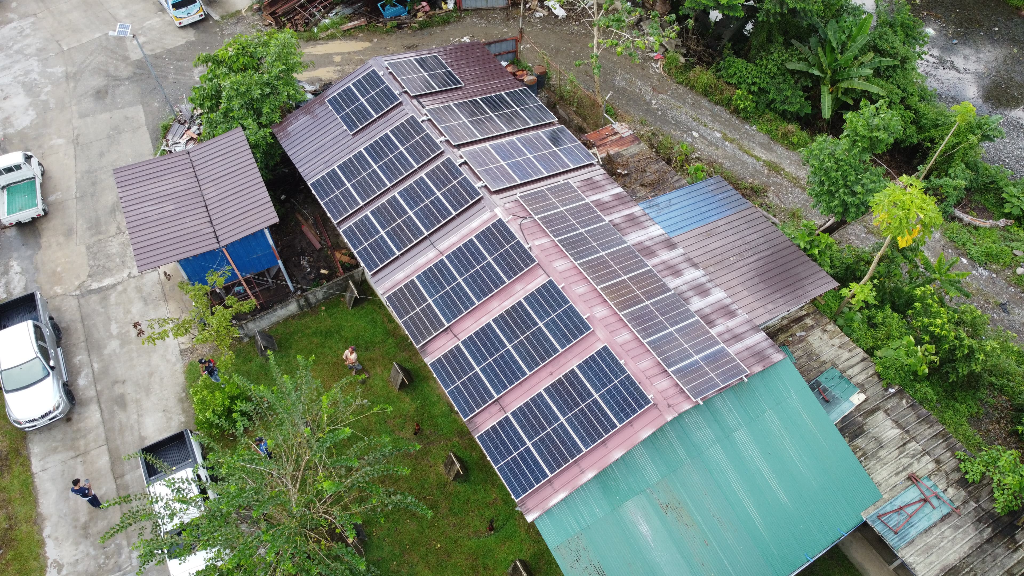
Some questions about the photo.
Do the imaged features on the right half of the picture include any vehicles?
No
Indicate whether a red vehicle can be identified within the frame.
No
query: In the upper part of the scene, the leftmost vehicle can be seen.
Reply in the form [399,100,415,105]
[0,148,52,228]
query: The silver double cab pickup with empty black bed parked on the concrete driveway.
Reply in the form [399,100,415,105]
[0,291,80,431]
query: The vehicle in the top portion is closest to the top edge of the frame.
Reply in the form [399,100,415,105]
[166,0,205,28]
